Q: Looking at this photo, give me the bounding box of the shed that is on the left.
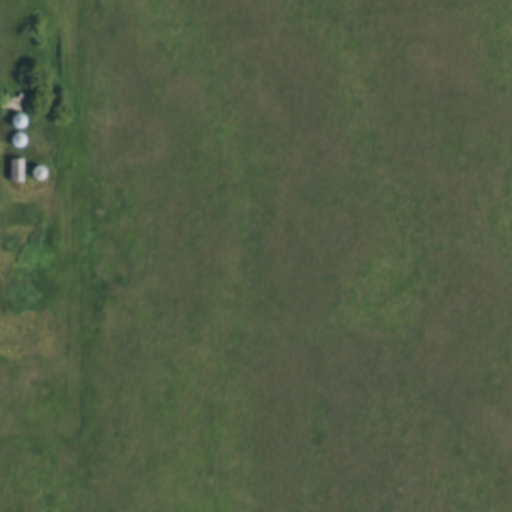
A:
[12,158,26,182]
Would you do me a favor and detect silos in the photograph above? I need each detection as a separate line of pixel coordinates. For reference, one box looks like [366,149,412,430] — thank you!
[34,165,49,181]
[12,113,29,130]
[12,132,28,148]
